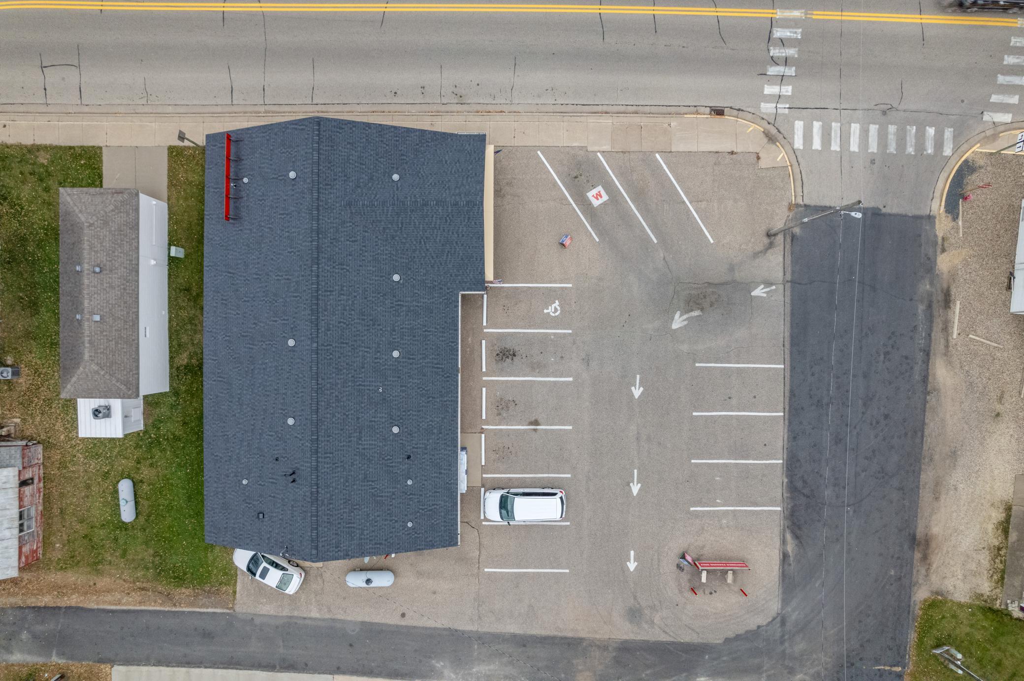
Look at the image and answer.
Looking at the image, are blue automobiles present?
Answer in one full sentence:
No, the picture doesn't show any blue automobile.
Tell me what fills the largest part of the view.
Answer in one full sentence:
What you mostly see from above here is paved ground.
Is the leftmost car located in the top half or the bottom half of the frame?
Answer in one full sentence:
The bottom half of the photo is where the leftmost car is.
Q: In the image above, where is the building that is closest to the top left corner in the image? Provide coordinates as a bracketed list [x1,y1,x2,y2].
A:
[58,187,168,399]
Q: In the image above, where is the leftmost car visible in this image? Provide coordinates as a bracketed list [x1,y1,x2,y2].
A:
[235,550,306,599]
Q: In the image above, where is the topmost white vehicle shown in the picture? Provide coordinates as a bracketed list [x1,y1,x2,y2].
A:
[484,486,566,525]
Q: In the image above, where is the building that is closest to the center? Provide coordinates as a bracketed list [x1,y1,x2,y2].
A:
[205,115,486,562]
